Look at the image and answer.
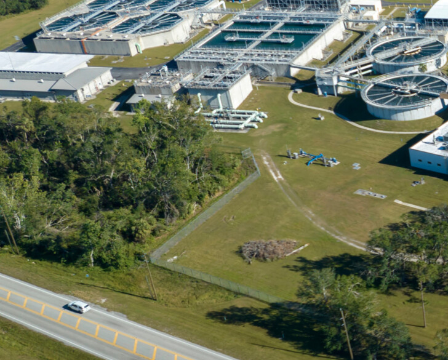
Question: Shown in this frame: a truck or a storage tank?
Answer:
storage tank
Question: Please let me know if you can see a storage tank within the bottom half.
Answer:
No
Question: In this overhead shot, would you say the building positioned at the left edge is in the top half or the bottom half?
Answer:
top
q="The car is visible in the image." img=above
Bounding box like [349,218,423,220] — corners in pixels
[66,300,88,313]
